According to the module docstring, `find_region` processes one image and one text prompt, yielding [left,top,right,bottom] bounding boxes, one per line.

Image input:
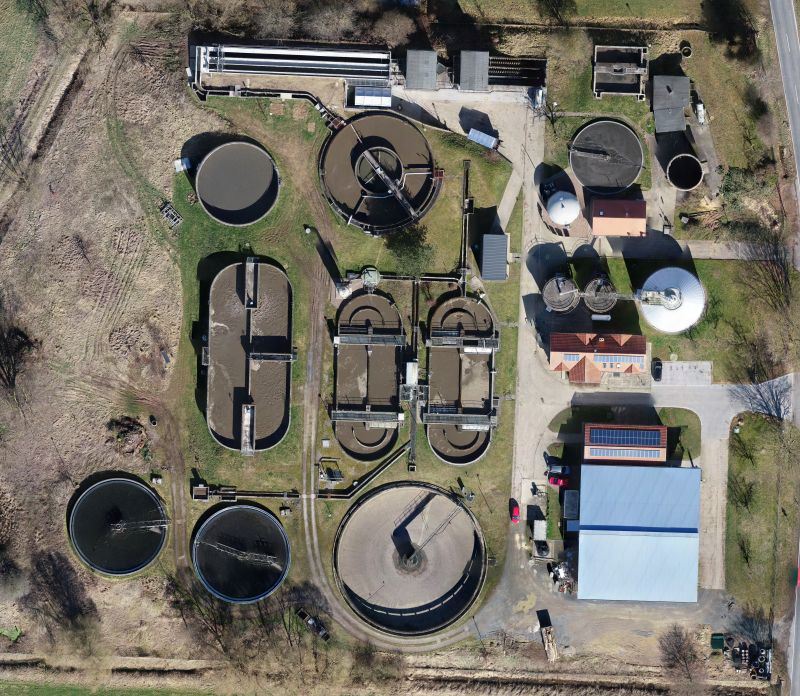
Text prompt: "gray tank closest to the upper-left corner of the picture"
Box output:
[195,141,280,226]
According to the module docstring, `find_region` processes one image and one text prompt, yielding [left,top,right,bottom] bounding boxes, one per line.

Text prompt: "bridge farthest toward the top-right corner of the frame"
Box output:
[426,334,498,355]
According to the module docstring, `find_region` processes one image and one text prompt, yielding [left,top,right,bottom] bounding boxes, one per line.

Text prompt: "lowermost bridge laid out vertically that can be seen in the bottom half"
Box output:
[241,404,255,456]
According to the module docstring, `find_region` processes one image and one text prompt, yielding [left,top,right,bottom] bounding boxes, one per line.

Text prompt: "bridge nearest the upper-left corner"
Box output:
[245,257,258,309]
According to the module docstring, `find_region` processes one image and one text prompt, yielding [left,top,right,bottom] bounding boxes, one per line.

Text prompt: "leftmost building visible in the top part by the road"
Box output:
[406,50,436,89]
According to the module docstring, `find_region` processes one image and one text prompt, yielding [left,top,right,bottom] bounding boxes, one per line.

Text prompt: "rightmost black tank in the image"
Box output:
[667,154,709,191]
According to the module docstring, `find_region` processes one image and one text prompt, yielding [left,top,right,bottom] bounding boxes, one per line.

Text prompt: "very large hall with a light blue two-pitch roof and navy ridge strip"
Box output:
[566,464,702,602]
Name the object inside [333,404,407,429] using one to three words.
bridge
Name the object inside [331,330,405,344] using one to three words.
bridge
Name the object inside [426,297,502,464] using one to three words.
storage tank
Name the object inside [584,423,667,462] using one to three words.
house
